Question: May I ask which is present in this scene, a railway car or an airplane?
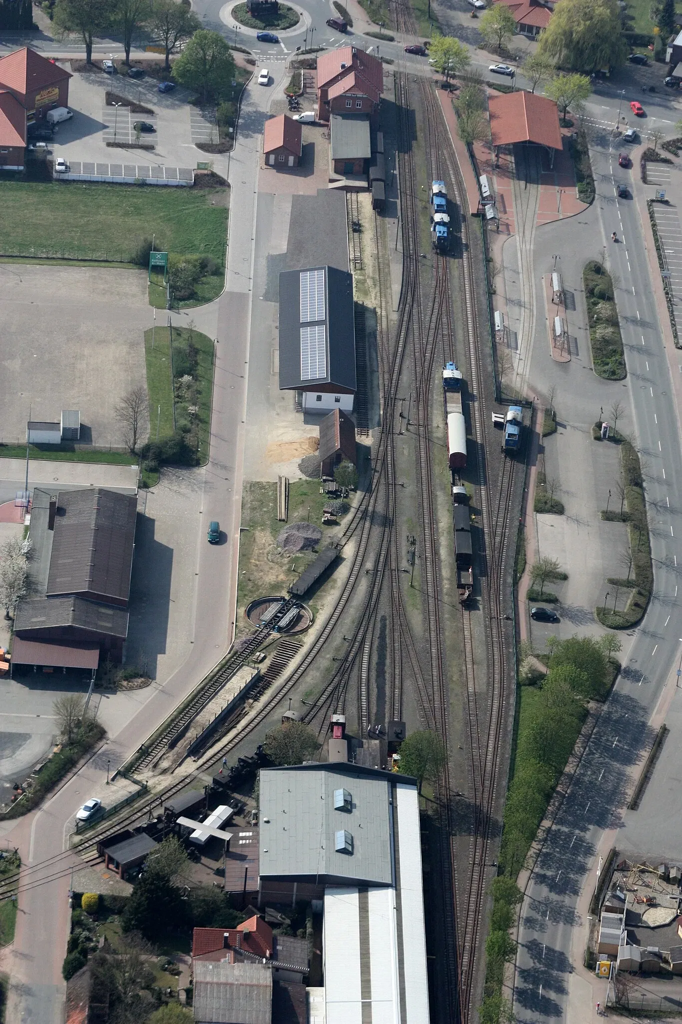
railway car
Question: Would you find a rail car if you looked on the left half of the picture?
Yes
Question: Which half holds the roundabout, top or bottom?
top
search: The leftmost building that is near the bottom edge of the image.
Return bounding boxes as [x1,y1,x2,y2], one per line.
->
[66,971,109,1024]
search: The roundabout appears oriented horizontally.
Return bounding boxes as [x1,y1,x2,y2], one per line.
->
[187,0,345,53]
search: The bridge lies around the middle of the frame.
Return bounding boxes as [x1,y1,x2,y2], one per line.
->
[259,598,300,633]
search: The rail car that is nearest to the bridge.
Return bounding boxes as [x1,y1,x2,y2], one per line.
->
[283,540,340,600]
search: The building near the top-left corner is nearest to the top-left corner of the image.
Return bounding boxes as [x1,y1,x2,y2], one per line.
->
[0,45,73,112]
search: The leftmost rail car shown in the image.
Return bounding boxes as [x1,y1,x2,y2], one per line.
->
[95,805,152,846]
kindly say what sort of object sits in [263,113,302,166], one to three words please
shed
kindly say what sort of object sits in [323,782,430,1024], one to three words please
building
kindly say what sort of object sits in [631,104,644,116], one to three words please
vehicle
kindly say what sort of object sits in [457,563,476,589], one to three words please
rail car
